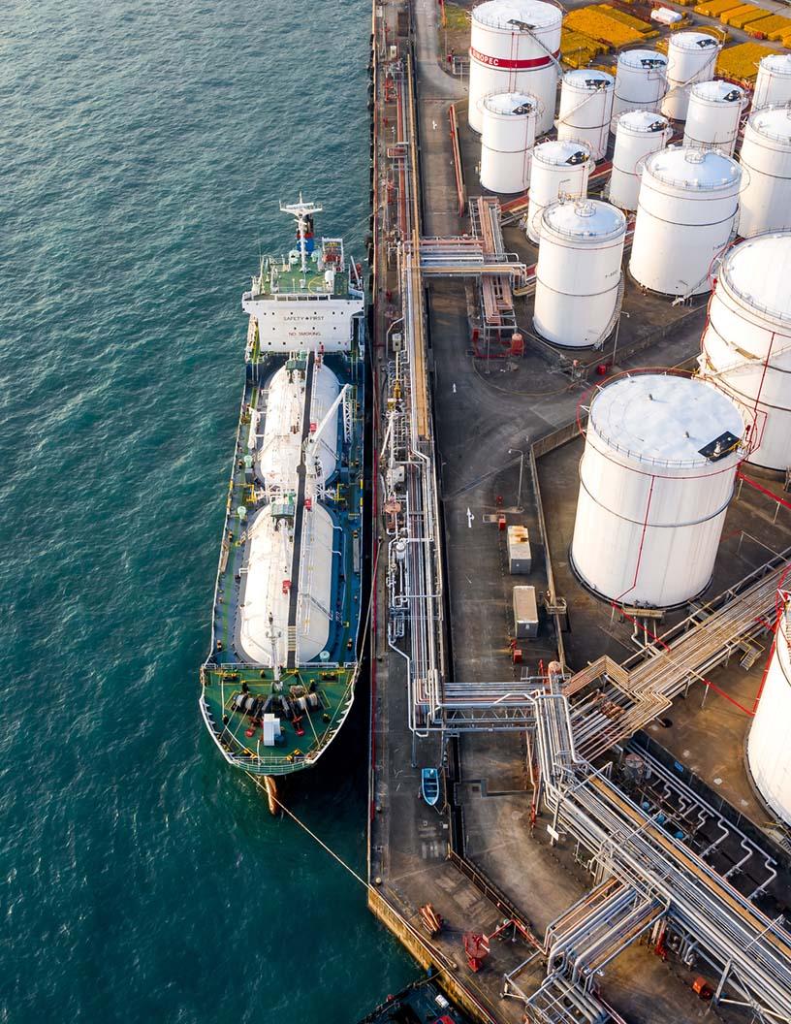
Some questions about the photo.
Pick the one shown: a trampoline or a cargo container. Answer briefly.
cargo container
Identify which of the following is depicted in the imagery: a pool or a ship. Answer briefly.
ship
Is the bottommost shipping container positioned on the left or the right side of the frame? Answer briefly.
right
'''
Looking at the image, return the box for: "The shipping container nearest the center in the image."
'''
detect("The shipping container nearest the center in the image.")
[506,526,533,573]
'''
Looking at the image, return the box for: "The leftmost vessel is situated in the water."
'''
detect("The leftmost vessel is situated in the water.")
[198,185,368,820]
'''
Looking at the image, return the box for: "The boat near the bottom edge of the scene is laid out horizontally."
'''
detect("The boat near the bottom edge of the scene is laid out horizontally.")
[368,980,467,1024]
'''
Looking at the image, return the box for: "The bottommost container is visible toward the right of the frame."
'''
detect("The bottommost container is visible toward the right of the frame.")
[511,581,540,637]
